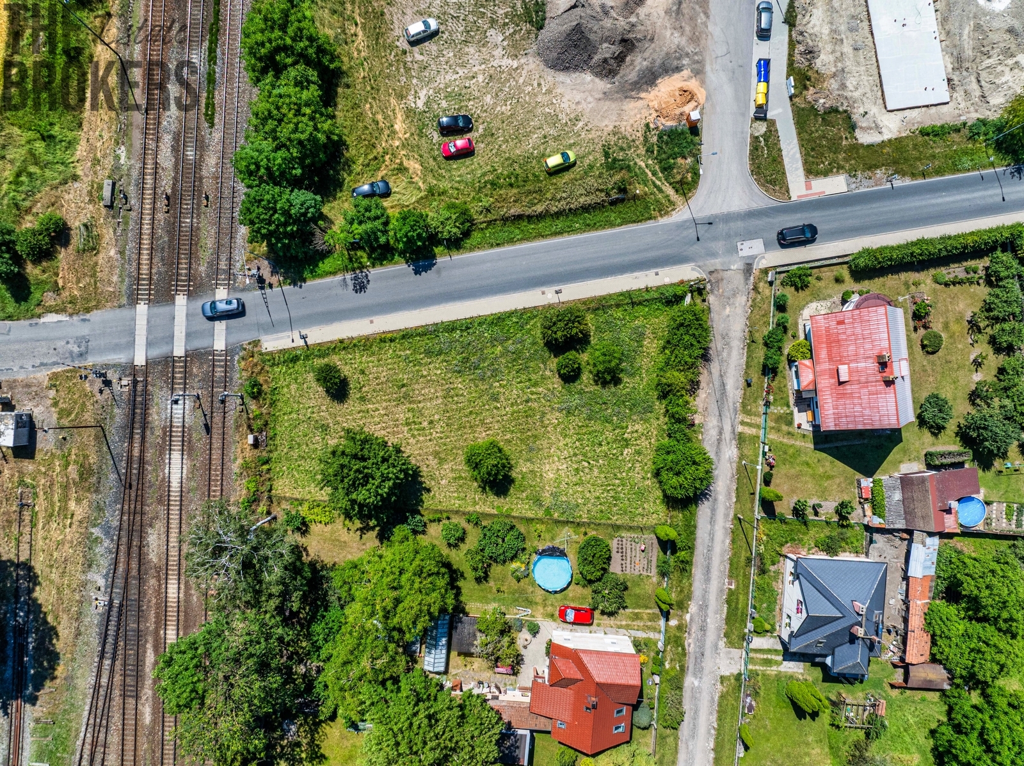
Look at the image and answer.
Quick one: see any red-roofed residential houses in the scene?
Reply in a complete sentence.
Yes, this view includes a red-roofed residential house.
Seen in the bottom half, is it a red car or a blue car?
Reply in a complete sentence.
What appears in the bottom half is a red car.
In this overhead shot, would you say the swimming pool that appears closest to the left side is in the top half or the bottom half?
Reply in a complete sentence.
Seen from above, the swimming pool that appears closest to the left side lies in the bottom half of the view.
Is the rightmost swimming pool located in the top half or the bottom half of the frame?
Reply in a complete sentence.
The rightmost swimming pool is in the bottom half of the image.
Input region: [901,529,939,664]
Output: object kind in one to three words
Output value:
shed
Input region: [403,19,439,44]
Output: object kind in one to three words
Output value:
car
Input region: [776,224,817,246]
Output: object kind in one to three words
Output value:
car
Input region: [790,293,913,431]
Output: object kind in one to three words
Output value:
house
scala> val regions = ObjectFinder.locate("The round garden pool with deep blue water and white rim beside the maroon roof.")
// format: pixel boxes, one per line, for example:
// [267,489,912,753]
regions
[952,497,986,526]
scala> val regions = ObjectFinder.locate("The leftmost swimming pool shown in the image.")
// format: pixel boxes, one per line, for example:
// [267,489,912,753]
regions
[532,545,572,592]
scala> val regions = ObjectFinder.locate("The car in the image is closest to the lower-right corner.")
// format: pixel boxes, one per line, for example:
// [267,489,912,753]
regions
[558,605,594,624]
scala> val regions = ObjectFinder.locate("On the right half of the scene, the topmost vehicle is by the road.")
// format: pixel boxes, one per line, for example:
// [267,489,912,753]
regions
[754,2,773,38]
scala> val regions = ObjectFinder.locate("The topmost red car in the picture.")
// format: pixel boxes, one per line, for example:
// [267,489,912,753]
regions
[441,138,475,159]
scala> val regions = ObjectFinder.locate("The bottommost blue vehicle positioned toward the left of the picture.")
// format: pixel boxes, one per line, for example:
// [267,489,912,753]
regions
[203,299,245,317]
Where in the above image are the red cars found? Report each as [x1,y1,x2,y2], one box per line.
[441,138,475,159]
[558,605,594,624]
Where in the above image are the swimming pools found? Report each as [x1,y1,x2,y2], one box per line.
[532,545,572,592]
[952,497,986,526]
